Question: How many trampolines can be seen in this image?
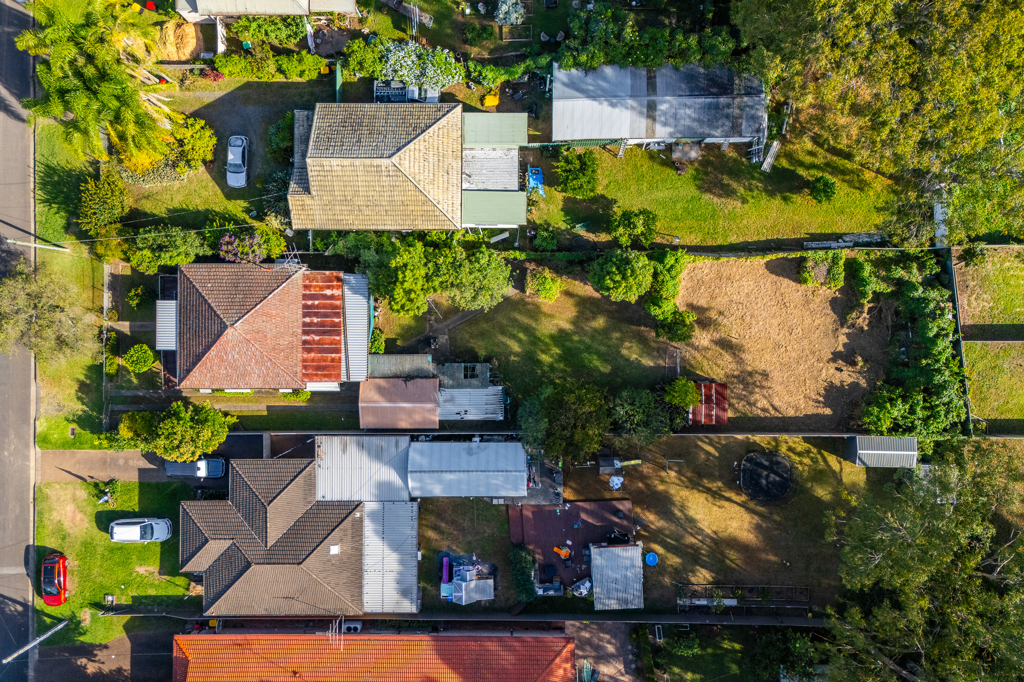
1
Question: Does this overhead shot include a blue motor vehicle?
Yes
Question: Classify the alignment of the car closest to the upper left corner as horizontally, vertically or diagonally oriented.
vertically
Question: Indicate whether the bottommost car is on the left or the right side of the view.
left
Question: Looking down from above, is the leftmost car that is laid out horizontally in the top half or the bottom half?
bottom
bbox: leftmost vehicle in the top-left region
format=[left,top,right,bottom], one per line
[223,135,250,188]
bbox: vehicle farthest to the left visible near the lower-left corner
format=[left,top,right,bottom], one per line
[37,553,68,604]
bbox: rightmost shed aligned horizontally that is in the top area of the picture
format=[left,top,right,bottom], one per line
[552,63,769,149]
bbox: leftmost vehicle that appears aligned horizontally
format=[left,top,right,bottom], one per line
[110,517,172,545]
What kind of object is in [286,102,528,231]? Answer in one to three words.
house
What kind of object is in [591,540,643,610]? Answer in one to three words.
shed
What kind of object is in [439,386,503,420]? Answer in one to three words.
shed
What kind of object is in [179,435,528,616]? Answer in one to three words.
house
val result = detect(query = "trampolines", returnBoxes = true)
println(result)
[737,451,800,503]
